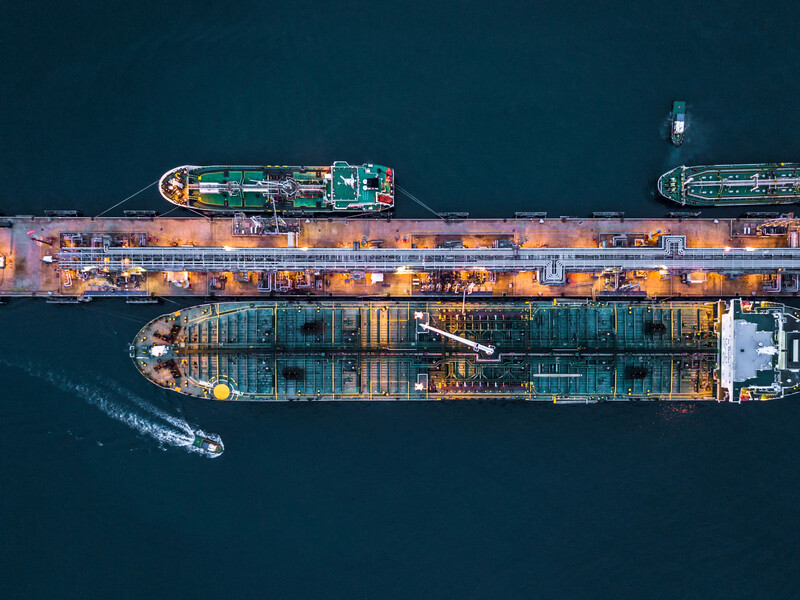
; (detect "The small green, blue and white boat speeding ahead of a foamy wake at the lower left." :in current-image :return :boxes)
[193,437,225,453]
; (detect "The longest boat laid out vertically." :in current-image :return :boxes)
[670,101,686,147]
